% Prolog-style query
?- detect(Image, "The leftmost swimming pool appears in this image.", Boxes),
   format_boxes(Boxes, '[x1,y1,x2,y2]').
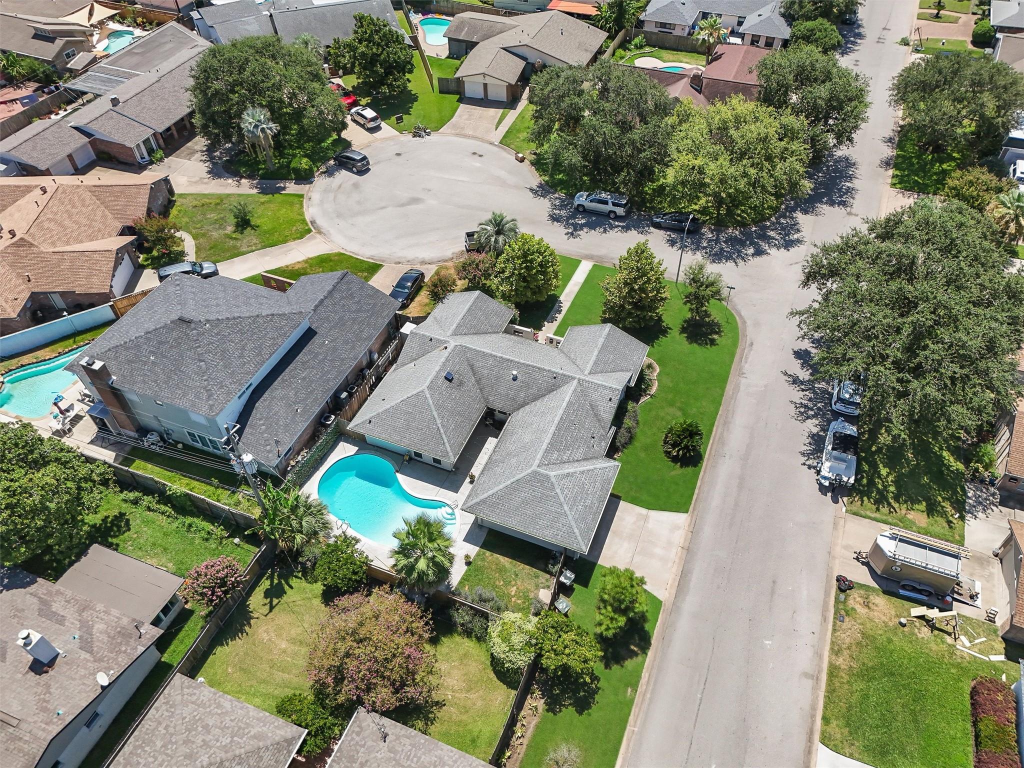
[0,343,94,420]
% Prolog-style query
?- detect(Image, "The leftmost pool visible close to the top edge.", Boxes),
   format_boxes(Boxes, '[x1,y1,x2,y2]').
[101,30,140,55]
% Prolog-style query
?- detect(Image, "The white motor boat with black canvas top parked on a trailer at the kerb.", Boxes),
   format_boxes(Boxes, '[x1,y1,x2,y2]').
[817,418,862,490]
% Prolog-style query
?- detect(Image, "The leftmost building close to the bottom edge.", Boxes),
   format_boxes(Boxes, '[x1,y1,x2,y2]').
[0,543,187,768]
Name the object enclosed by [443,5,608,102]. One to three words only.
house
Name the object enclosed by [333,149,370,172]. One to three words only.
car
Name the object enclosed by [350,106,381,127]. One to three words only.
car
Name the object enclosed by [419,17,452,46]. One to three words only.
swimming pool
